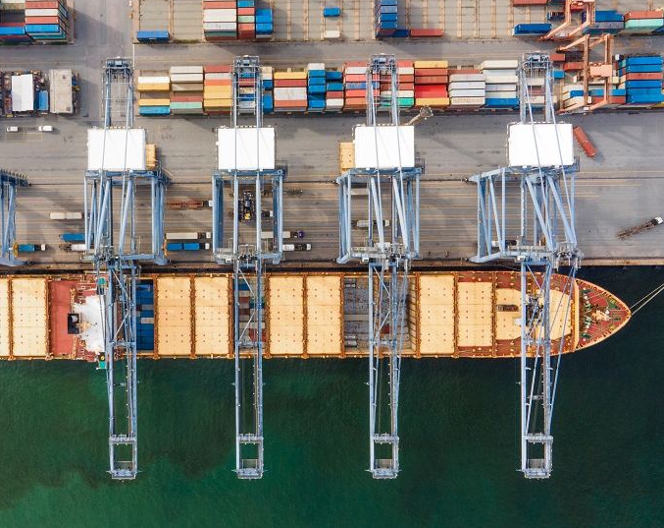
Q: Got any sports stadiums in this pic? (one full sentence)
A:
No, the frame has no sports stadium in it.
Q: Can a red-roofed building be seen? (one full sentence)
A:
No, the photo shows no red-roofed building.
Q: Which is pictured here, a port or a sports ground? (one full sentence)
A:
This image shows a port.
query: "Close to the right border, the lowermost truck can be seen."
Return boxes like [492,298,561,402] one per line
[618,215,664,240]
